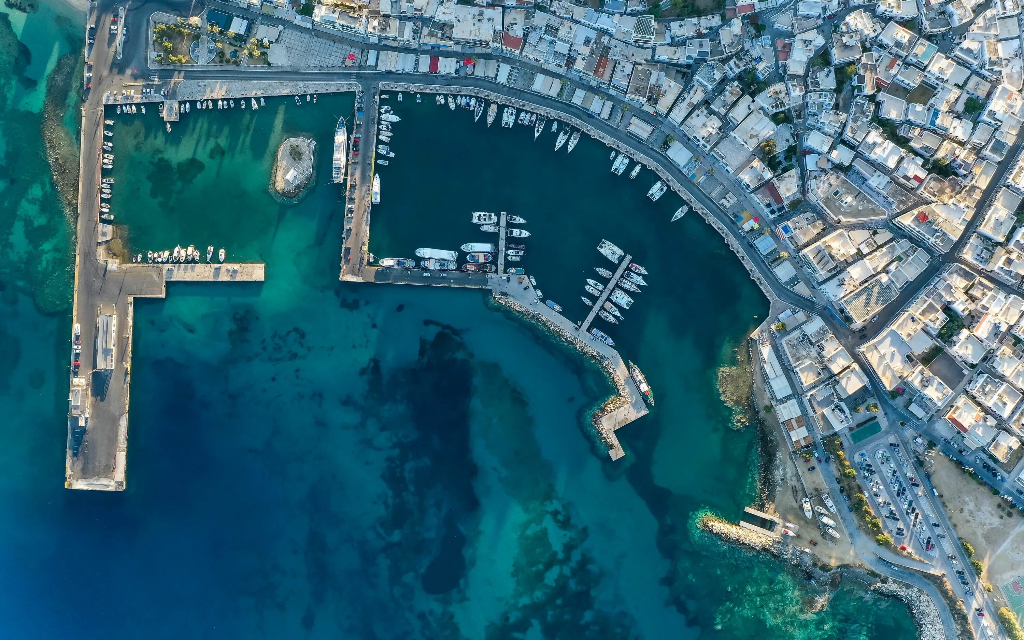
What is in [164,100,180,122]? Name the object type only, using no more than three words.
pier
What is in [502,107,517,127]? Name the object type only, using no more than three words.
boat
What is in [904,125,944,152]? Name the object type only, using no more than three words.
house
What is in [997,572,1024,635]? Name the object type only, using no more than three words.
basketball court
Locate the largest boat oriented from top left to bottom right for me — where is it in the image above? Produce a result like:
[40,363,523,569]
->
[629,362,657,403]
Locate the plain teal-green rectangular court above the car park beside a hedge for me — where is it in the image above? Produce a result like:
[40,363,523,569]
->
[846,420,887,449]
